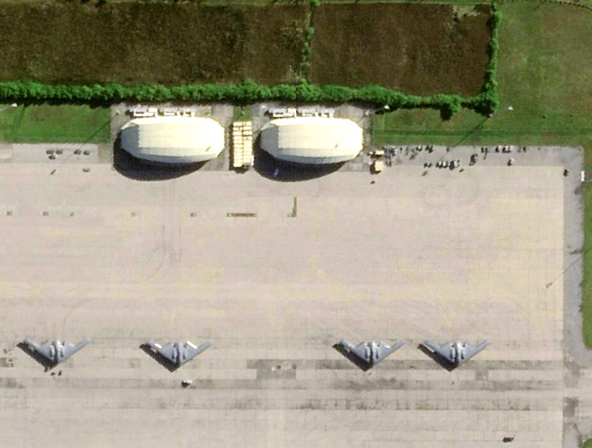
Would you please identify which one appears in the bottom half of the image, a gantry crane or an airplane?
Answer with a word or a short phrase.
airplane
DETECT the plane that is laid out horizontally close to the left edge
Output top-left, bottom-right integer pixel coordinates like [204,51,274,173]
[22,336,90,364]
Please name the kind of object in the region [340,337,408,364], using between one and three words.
airplane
